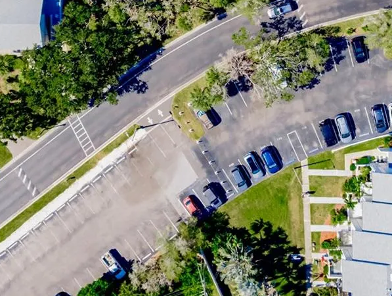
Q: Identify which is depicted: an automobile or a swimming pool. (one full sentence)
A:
Visible in the photo is an automobile.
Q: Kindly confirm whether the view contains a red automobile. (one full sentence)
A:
Yes, there is a red automobile in the image.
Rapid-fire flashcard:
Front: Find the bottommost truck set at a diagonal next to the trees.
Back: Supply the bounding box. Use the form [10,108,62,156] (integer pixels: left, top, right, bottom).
[100,250,126,280]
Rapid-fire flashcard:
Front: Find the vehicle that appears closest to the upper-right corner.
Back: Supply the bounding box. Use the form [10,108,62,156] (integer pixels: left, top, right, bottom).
[353,36,366,63]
